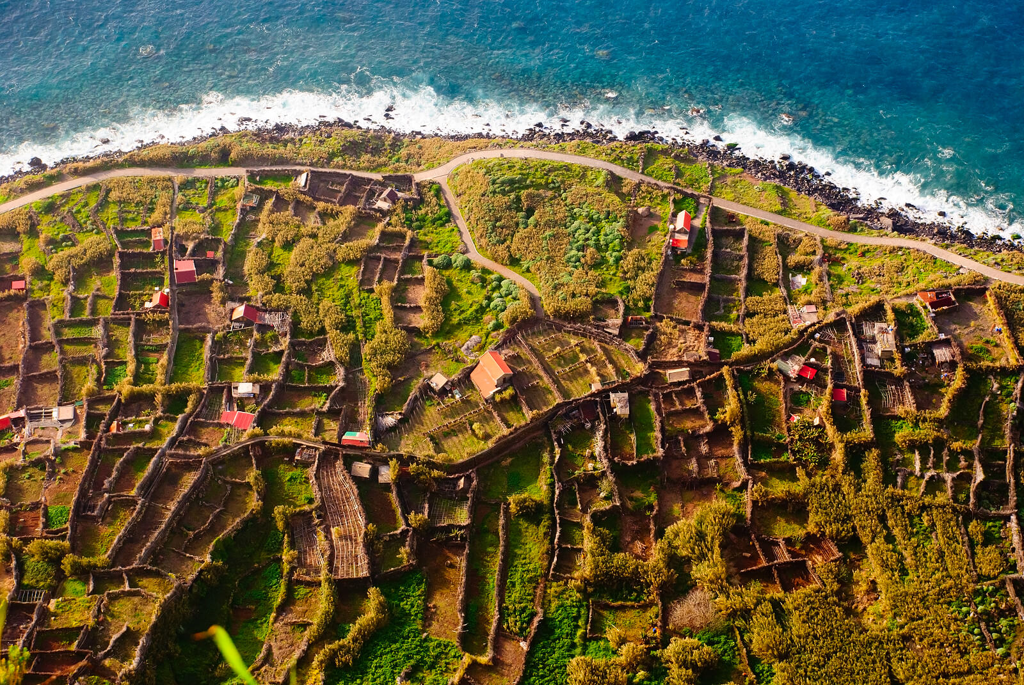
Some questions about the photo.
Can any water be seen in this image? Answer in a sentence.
Yes, water shows up in the scene.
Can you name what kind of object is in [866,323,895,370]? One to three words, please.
house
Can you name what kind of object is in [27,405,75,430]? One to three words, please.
house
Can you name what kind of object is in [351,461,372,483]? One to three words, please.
shed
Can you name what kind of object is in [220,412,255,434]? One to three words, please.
shed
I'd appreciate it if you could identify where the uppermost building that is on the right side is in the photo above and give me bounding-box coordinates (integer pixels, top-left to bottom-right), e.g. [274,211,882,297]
[671,209,691,253]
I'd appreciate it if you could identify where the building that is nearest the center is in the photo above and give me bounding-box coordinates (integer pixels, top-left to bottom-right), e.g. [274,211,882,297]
[471,350,512,401]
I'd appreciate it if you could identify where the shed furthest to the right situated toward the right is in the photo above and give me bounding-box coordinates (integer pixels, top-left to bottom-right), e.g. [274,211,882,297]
[917,290,956,316]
